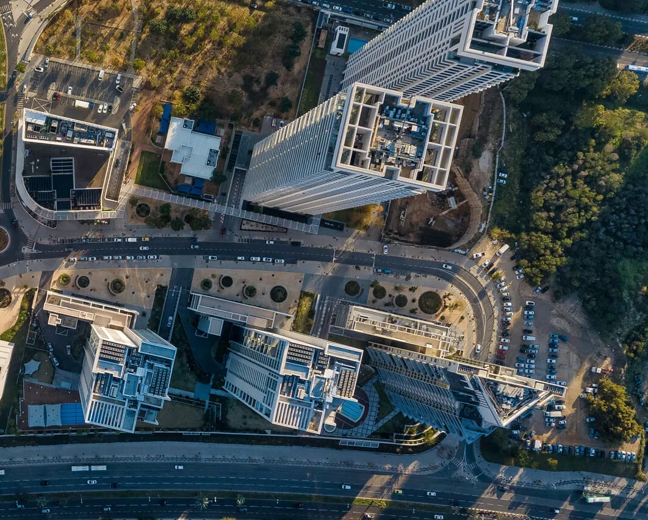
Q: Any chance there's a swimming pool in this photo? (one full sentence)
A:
Yes, the frame does contain a swimming pool.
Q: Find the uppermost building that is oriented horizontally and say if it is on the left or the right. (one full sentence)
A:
The uppermost building that is oriented horizontally appears in the right half of the scene.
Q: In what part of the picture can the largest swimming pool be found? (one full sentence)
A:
The largest swimming pool is located in the bottom region of the scene.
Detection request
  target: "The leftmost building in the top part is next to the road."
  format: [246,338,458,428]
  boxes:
[16,108,124,219]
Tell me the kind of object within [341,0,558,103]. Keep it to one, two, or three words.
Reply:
building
